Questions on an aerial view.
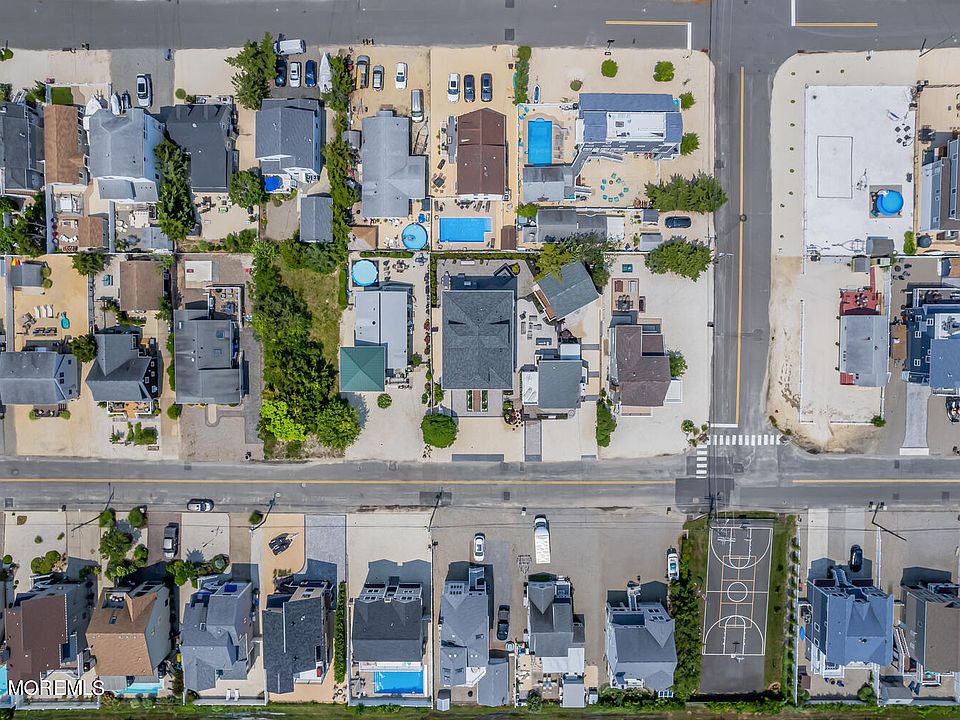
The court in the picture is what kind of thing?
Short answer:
basketball court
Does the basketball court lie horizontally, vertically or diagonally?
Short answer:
vertically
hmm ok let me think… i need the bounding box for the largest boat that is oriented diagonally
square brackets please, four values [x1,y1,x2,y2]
[267,533,297,554]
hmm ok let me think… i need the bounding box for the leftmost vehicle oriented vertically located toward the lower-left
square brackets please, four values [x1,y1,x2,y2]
[162,524,177,557]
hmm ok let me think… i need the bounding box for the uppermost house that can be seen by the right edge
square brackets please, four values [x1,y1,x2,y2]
[917,135,960,239]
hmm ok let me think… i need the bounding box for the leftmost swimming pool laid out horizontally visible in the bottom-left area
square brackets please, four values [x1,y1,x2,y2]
[109,682,164,694]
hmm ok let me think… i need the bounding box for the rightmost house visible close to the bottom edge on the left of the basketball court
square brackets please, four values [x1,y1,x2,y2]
[605,579,682,700]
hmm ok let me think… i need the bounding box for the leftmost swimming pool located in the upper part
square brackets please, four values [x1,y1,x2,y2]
[263,176,281,194]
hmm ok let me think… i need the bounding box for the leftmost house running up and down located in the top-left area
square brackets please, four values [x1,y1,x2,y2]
[0,101,44,193]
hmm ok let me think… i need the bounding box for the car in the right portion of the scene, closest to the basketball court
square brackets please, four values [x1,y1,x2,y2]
[848,544,862,572]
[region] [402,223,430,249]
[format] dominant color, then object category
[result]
blue swimming pool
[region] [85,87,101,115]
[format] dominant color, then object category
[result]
white boat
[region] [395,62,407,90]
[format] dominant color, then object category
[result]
white vehicle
